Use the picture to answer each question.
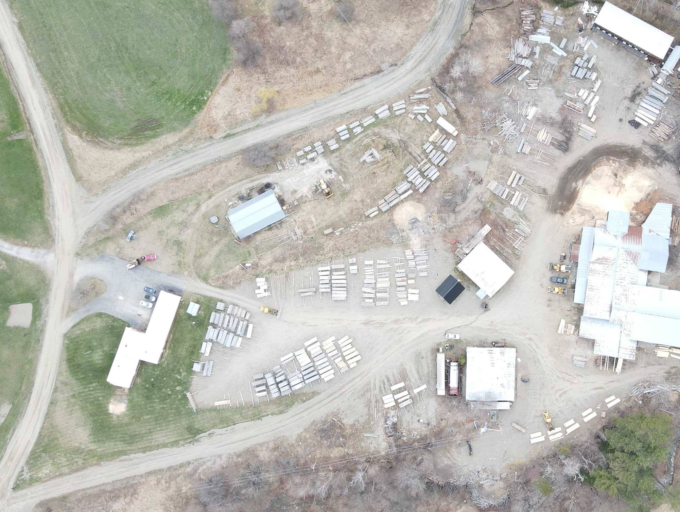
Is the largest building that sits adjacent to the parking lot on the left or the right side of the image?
left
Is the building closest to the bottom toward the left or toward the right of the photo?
right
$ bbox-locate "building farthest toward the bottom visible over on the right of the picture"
[466,347,516,402]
